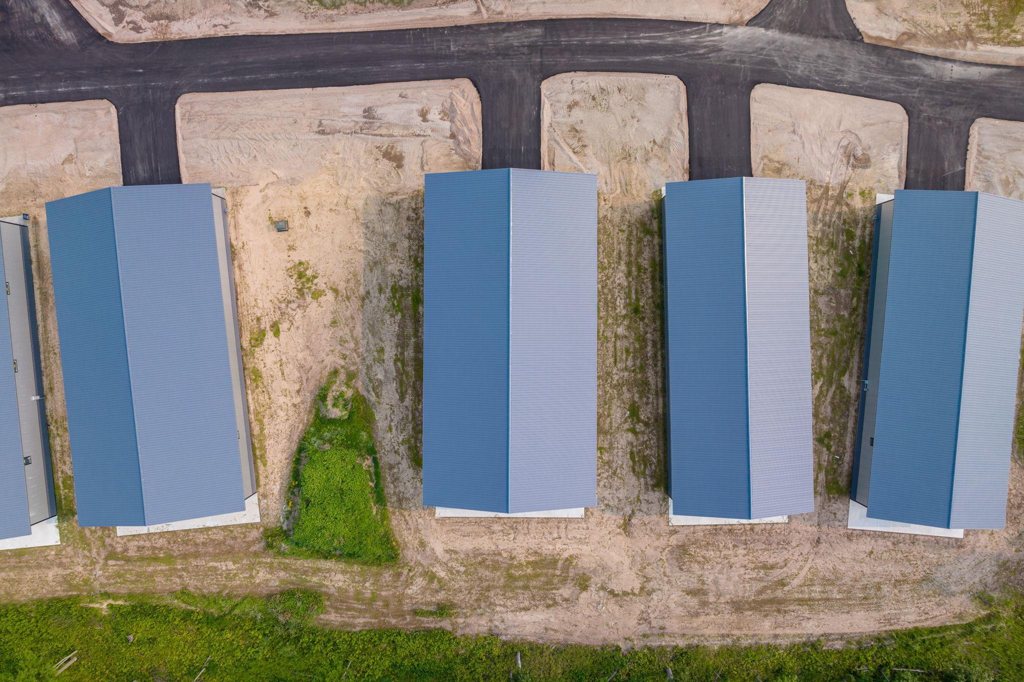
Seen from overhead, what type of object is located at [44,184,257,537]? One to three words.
building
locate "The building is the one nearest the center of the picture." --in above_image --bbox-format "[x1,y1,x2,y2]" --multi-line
[422,167,598,518]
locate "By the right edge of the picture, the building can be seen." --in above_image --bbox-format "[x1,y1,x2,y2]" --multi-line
[849,189,1024,539]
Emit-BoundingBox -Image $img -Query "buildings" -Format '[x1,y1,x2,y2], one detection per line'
[0,208,58,550]
[661,176,814,526]
[849,189,1024,539]
[44,184,257,537]
[422,167,598,518]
